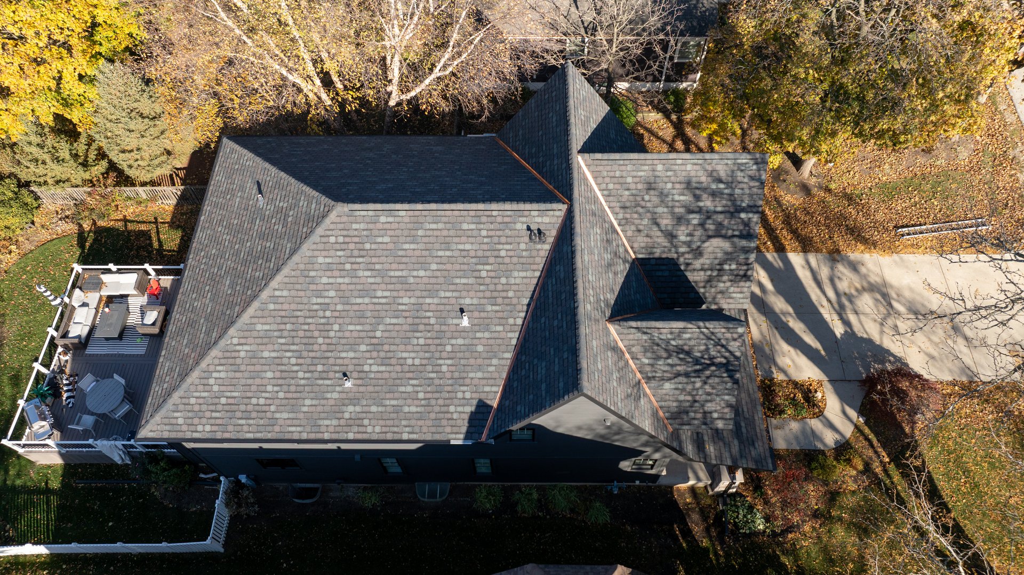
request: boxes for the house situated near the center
[131,58,778,516]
